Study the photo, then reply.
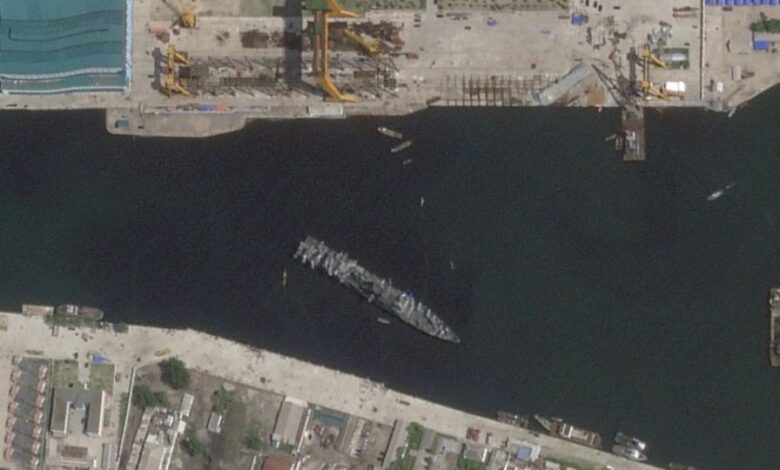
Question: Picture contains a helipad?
No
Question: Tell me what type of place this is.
port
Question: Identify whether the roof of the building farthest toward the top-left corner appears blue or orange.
blue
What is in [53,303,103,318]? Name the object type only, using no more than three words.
ship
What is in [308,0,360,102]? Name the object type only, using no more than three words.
container crane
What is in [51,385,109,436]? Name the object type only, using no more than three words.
building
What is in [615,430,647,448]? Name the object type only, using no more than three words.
boat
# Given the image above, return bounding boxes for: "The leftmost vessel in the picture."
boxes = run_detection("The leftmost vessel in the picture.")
[21,303,54,315]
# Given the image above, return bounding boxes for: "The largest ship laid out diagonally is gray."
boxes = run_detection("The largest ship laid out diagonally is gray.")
[294,240,459,344]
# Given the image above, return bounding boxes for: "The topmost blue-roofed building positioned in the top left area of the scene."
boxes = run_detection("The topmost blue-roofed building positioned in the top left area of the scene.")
[0,0,133,94]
